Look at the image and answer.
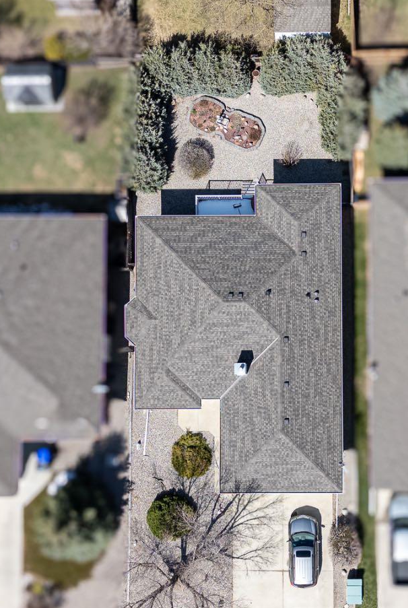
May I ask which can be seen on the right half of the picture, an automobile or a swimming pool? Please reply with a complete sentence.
What appears on the right half of the picture is an automobile.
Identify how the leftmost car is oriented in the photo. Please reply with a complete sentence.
The leftmost car runs vertically in the image.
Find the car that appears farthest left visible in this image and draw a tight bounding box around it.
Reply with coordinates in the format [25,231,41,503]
[284,505,324,590]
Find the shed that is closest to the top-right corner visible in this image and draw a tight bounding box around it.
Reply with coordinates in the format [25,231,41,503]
[274,0,330,47]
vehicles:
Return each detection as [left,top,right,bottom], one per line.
[284,505,324,590]
[384,492,408,589]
